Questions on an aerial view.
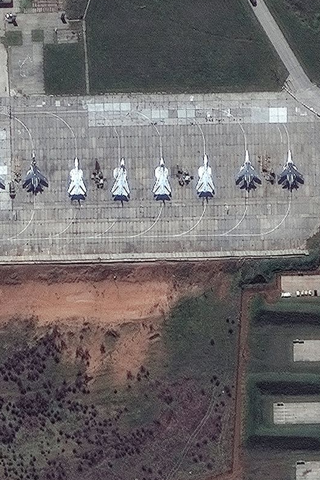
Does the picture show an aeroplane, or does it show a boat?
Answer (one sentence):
It is an aeroplane that can be seen here.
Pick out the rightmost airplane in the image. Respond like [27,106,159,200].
[276,150,304,192]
